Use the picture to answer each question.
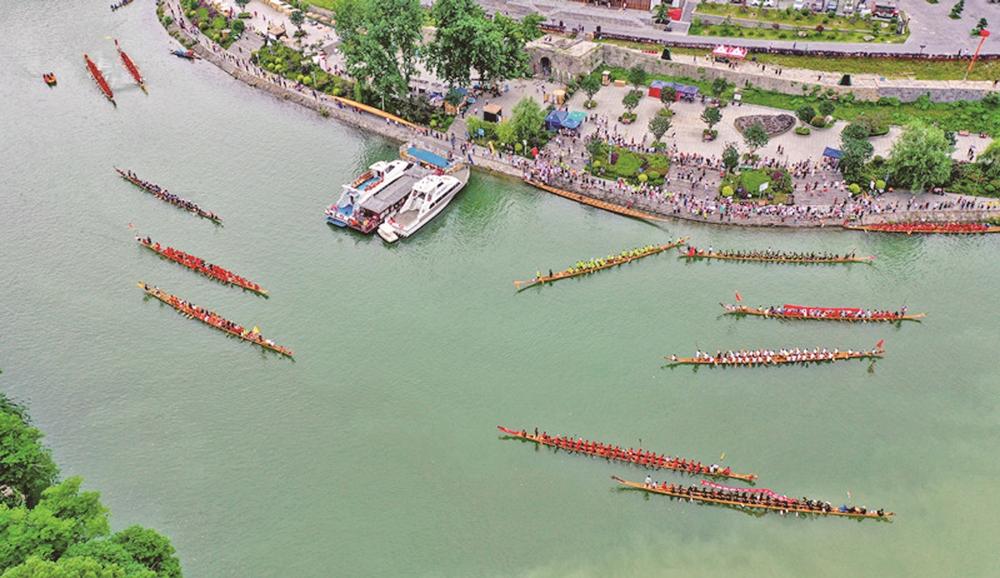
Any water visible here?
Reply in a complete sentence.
Yes, there is water in the image.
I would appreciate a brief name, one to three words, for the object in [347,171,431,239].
vessel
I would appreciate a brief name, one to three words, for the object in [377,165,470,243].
boat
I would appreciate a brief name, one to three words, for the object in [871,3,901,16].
vehicle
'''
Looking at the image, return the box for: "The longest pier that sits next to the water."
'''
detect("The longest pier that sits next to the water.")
[399,144,466,180]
